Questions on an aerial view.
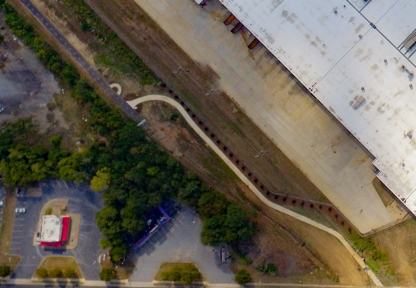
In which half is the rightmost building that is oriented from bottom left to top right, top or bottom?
bottom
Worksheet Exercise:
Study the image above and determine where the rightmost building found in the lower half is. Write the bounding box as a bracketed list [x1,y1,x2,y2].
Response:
[132,204,172,250]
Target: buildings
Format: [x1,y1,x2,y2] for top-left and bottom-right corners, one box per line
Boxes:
[132,204,172,250]
[197,0,416,217]
[39,214,70,247]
